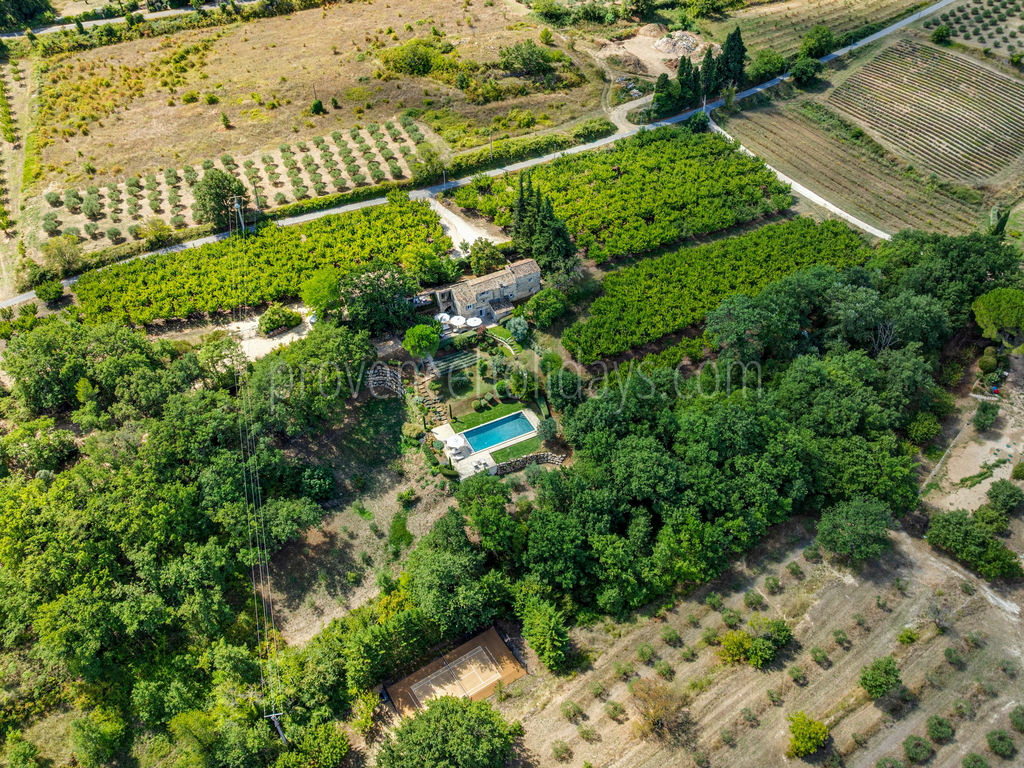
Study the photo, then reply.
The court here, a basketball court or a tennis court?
tennis court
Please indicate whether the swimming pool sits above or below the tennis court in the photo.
above it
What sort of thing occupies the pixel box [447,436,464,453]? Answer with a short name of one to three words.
umbrella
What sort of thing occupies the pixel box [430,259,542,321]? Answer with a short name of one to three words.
house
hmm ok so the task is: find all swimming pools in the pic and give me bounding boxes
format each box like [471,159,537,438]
[456,410,537,455]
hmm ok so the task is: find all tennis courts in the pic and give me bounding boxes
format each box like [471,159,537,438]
[387,627,526,739]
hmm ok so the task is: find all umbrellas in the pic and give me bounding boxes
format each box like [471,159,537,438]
[435,314,450,323]
[467,318,482,332]
[447,436,464,453]
[451,317,466,331]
